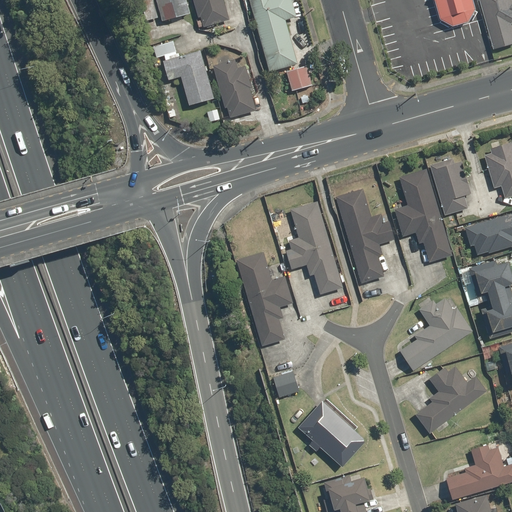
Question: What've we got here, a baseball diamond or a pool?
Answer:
pool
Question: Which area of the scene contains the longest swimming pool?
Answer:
right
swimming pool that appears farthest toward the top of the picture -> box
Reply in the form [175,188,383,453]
[459,268,483,306]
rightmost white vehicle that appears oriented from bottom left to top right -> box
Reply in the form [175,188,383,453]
[407,320,424,334]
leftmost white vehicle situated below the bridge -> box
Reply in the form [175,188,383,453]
[42,412,54,432]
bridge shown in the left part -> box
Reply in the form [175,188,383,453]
[0,172,122,268]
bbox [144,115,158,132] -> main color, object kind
white vehicle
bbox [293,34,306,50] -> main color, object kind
gray vehicle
